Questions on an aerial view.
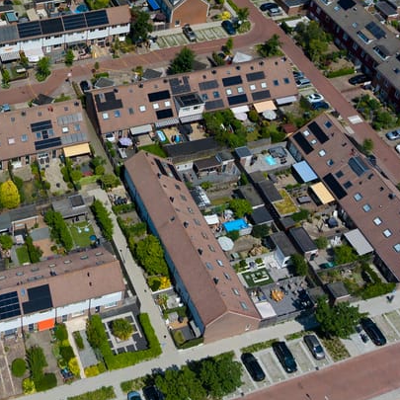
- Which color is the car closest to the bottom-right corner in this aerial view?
black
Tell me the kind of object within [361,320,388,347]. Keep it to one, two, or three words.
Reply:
car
